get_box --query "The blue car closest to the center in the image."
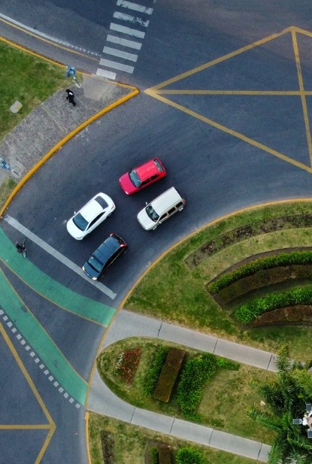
[81,229,130,283]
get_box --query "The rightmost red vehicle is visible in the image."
[115,156,170,197]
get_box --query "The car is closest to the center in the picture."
[135,183,188,230]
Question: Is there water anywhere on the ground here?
No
